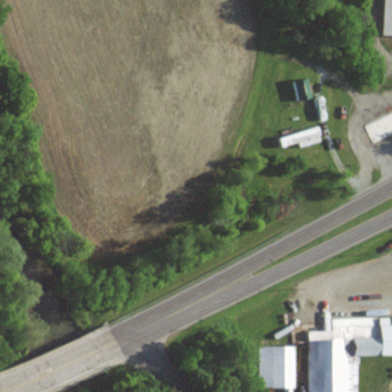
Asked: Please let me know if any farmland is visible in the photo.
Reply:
Yes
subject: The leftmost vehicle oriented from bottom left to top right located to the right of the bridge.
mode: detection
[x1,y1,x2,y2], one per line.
[274,321,300,339]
